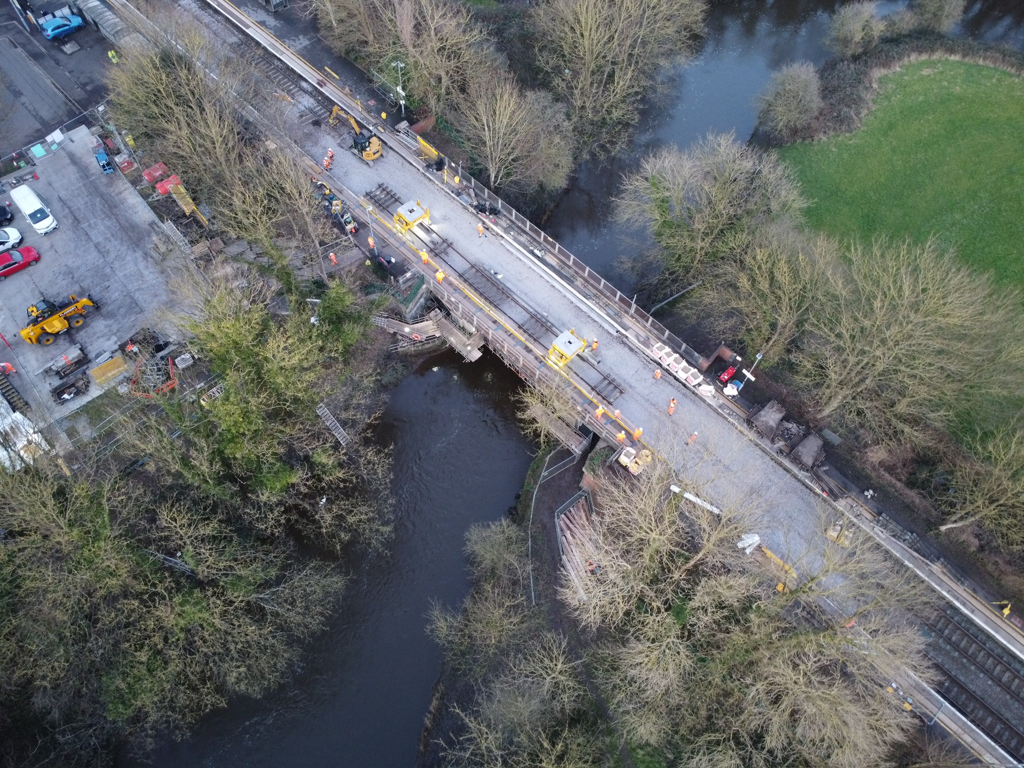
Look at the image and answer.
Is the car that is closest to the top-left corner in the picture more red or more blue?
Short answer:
blue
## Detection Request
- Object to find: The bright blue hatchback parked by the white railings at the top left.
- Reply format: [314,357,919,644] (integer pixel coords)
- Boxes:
[36,15,84,39]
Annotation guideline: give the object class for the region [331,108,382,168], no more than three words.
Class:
work vehicle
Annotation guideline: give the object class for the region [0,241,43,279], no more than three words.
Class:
car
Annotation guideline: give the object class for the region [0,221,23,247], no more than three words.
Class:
car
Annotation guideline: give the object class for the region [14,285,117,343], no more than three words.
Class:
work vehicle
